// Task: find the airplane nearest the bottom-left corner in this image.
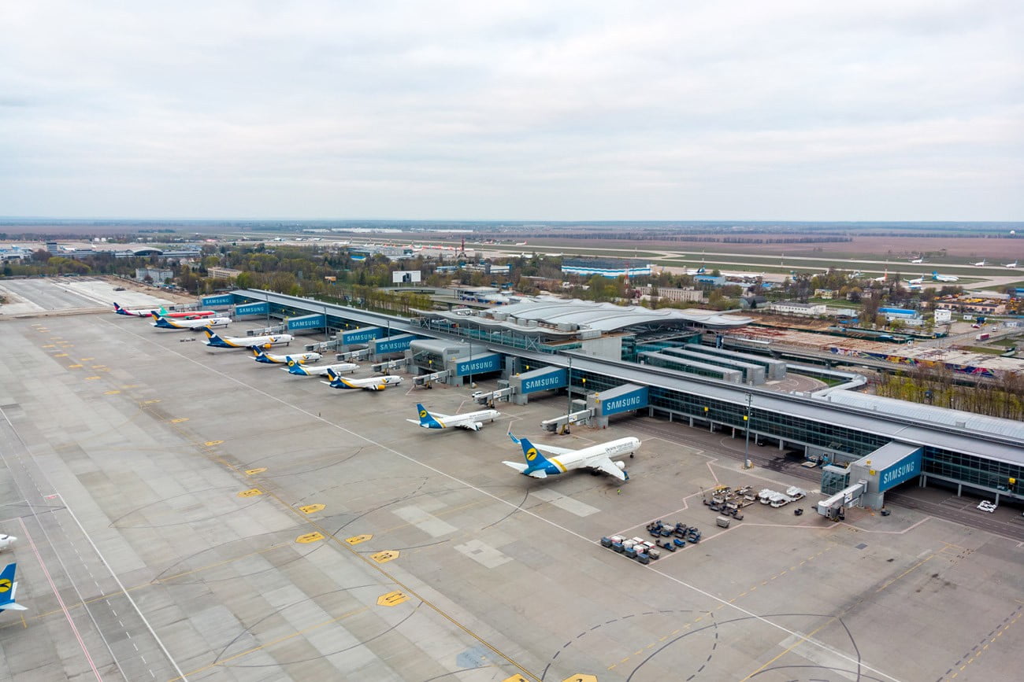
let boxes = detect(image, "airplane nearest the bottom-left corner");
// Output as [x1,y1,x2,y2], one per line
[0,564,24,615]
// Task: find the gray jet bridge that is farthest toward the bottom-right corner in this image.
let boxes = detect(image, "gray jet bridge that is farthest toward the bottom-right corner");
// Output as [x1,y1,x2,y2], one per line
[818,475,871,523]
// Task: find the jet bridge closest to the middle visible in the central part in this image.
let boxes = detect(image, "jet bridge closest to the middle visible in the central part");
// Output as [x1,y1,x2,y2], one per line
[469,384,517,410]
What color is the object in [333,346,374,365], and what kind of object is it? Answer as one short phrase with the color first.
gray jet bridge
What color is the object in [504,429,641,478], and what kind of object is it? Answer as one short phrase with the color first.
white airplane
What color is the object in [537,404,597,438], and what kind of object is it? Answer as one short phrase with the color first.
gray jet bridge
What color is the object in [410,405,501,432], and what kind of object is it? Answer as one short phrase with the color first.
white airplane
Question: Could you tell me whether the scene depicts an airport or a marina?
airport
